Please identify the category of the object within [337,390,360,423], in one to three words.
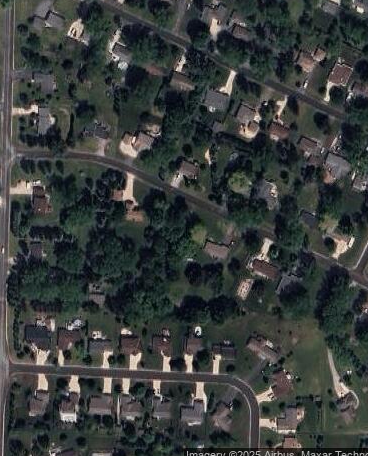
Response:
house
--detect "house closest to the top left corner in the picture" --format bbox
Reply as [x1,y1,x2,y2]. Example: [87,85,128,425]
[33,0,64,29]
